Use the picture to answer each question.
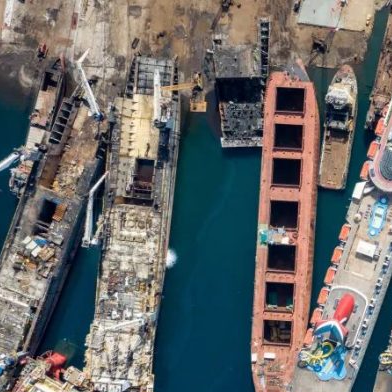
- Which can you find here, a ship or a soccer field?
ship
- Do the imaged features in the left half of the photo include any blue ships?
No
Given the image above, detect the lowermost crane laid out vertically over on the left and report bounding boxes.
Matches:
[81,170,113,248]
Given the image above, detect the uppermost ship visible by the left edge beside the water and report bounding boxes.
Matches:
[12,51,69,196]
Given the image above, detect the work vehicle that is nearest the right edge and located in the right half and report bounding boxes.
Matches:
[302,39,324,68]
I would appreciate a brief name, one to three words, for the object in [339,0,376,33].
shed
